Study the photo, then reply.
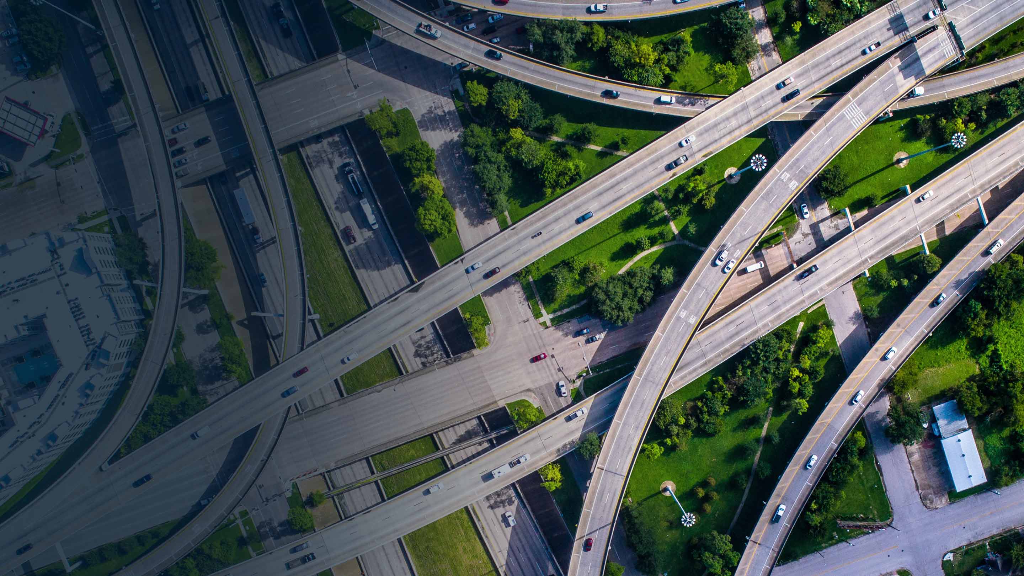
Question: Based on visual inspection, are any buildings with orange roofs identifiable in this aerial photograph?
No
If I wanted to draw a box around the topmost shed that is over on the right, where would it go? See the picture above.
[929,399,968,438]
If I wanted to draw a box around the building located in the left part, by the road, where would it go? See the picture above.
[0,231,141,490]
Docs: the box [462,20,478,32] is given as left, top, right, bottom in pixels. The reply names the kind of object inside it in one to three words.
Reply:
vehicle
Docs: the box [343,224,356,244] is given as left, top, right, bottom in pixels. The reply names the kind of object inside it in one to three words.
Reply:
vehicle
